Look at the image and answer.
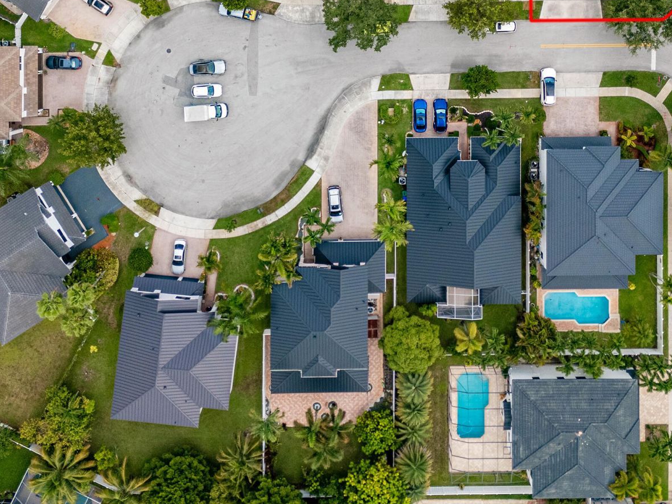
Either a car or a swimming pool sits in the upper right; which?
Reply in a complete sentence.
Visible in the upper right is a car.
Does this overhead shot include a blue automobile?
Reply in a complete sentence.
Yes, the frame does contain a blue automobile.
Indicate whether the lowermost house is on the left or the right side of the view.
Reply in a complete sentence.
You can find the lowermost house on the right side of the picture.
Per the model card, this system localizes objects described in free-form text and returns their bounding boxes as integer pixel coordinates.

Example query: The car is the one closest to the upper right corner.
[539,70,557,105]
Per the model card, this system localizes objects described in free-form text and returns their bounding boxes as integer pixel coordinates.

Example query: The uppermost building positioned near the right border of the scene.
[539,136,663,290]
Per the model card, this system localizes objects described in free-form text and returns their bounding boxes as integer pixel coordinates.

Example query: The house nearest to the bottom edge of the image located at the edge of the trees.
[499,368,640,500]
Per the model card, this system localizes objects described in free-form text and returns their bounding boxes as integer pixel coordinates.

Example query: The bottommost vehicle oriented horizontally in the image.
[182,103,229,122]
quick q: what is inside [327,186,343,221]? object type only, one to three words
car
